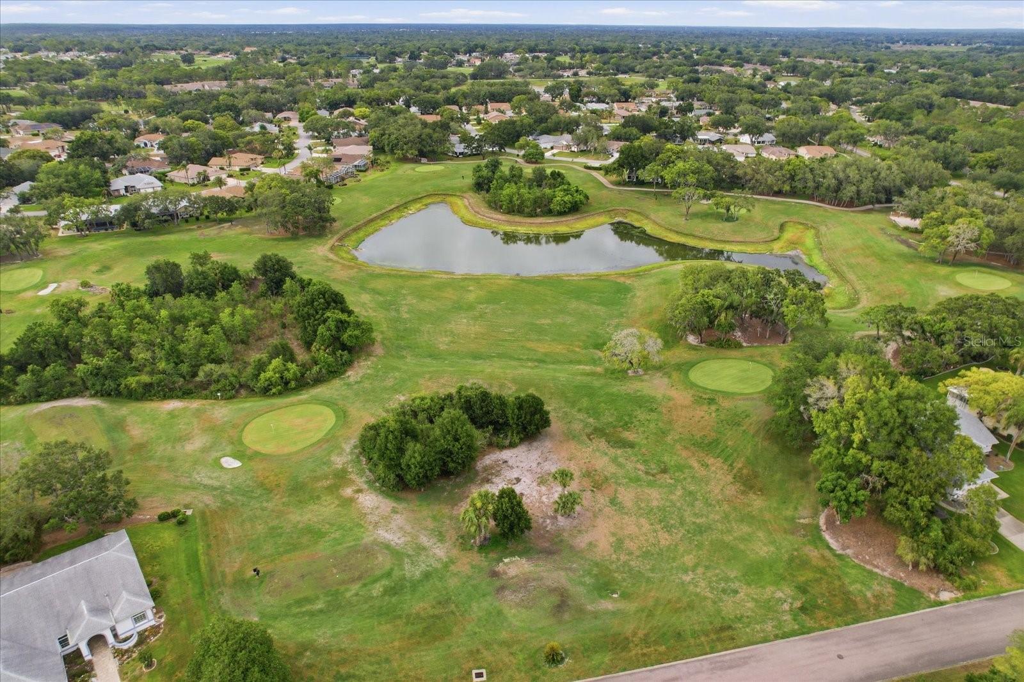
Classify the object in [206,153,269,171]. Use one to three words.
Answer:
house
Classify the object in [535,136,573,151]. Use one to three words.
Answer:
house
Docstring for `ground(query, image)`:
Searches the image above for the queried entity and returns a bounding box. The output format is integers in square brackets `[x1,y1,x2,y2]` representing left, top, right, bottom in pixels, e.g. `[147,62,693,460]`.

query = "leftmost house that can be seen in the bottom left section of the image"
[0,530,160,682]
